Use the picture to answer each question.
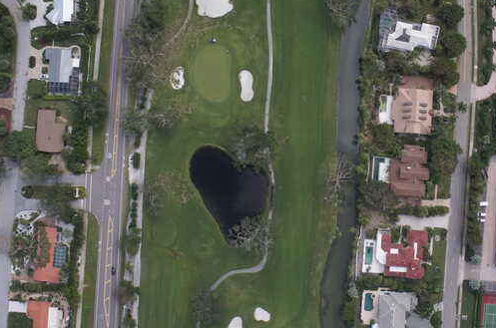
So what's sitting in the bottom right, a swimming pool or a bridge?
swimming pool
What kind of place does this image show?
golf course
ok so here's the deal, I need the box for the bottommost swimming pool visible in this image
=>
[361,290,379,325]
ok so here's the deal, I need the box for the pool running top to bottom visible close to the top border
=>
[378,8,397,50]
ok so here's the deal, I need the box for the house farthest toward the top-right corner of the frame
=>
[379,9,440,51]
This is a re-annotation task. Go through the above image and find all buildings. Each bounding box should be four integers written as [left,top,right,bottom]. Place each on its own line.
[376,230,428,279]
[46,0,77,24]
[379,9,440,51]
[392,88,434,134]
[33,228,68,284]
[371,290,417,328]
[389,144,430,199]
[36,109,67,153]
[27,301,65,328]
[44,47,81,95]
